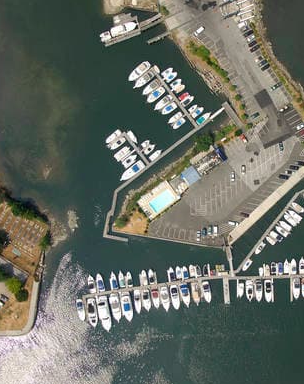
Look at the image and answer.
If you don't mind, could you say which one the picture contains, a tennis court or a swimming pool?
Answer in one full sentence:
It is a swimming pool that can be seen here.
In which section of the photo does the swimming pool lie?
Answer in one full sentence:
The swimming pool is in the center part of the image.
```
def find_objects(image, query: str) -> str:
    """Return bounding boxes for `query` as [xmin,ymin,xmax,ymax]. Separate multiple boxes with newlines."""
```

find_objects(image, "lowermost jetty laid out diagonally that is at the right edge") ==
[231,188,304,277]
